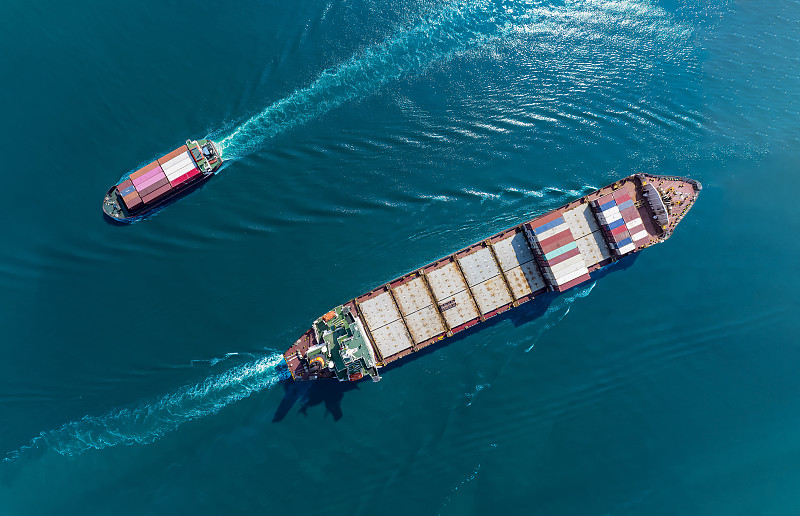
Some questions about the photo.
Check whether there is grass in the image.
No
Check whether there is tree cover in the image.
No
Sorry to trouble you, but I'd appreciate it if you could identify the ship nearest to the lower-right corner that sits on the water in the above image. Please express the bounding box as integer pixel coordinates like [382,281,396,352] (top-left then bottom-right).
[283,174,702,384]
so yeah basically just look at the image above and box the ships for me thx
[283,174,702,384]
[102,137,224,217]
